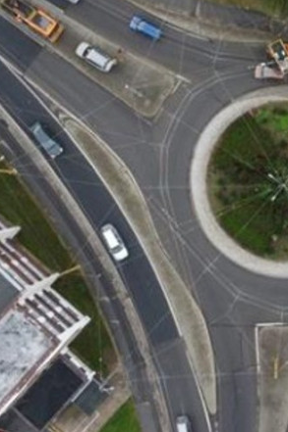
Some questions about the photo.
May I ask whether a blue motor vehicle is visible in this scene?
Yes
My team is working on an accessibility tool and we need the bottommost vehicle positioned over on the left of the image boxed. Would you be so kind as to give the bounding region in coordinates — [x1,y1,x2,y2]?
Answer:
[102,225,127,260]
